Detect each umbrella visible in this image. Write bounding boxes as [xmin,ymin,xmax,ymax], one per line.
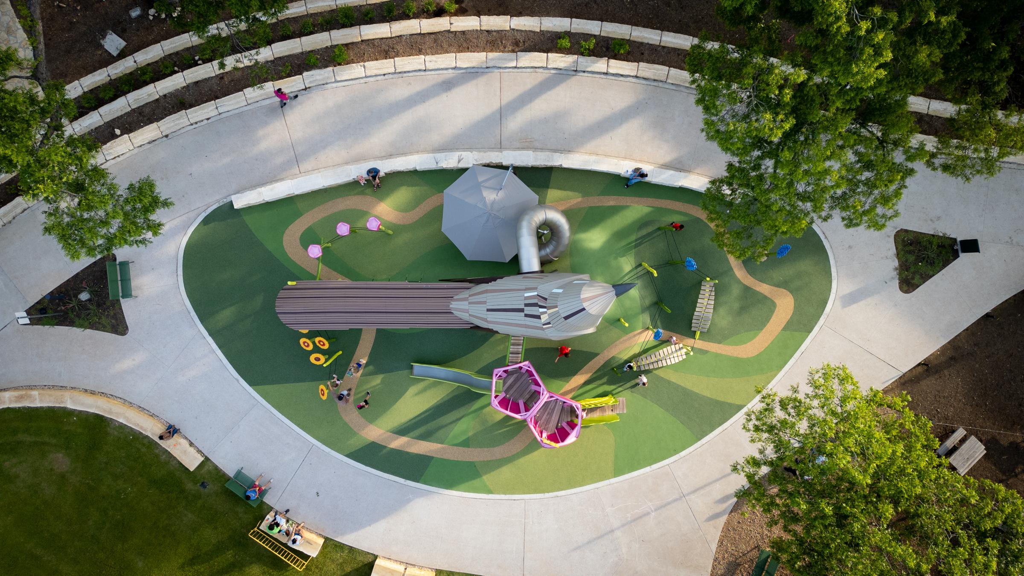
[442,163,538,262]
